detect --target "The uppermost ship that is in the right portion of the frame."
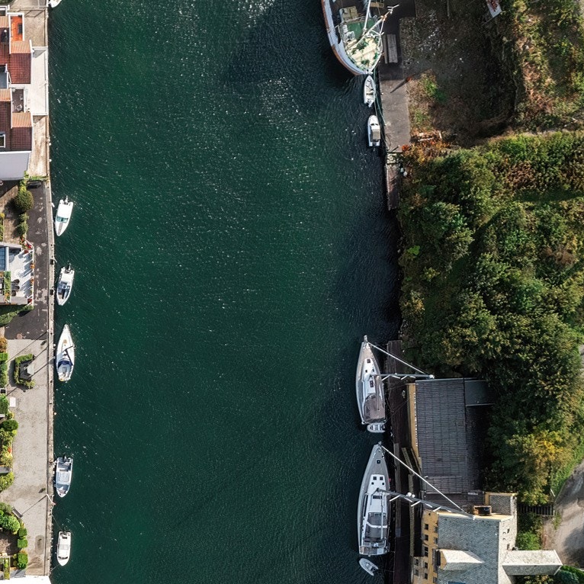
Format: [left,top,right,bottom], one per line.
[322,0,392,79]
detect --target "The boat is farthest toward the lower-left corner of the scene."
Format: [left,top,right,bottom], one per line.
[57,526,70,564]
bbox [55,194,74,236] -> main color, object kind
white boat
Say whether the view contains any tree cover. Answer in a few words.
Yes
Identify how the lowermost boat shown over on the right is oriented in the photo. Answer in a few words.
on a diagonal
